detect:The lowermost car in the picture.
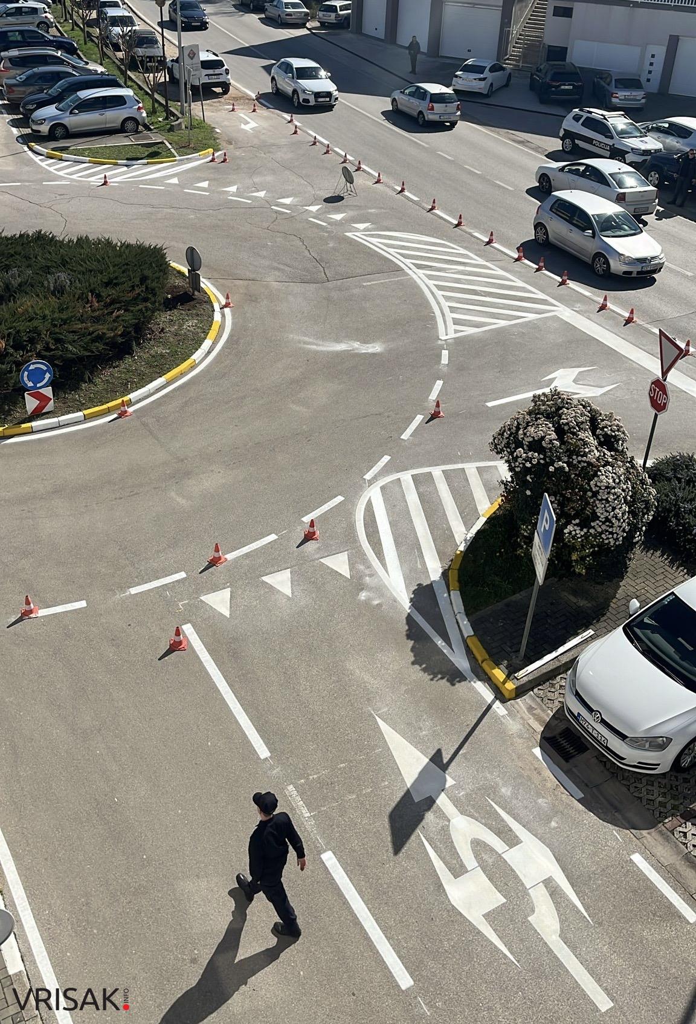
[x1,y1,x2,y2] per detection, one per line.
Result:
[561,590,696,777]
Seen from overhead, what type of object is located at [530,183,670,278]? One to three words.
car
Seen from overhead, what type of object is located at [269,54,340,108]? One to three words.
car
